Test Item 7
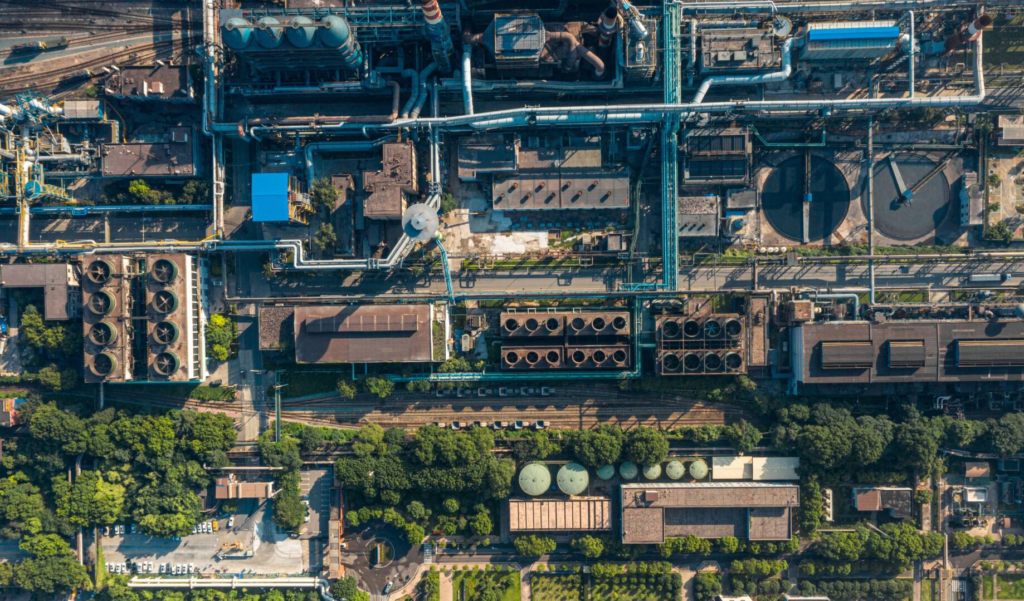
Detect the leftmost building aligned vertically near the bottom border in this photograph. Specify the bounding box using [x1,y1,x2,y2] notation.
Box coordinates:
[329,467,346,578]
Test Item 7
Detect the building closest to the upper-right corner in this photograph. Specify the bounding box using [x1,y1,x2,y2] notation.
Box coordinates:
[990,116,1024,147]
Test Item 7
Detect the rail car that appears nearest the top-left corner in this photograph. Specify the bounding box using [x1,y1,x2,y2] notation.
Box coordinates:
[11,37,69,54]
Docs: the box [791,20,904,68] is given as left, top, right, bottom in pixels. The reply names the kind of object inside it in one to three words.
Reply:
house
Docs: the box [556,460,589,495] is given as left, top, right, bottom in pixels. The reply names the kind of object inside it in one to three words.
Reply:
storage tank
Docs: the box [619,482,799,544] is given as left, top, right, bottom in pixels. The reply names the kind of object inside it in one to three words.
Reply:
building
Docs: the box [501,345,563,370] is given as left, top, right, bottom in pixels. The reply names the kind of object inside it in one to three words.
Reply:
cooling tower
